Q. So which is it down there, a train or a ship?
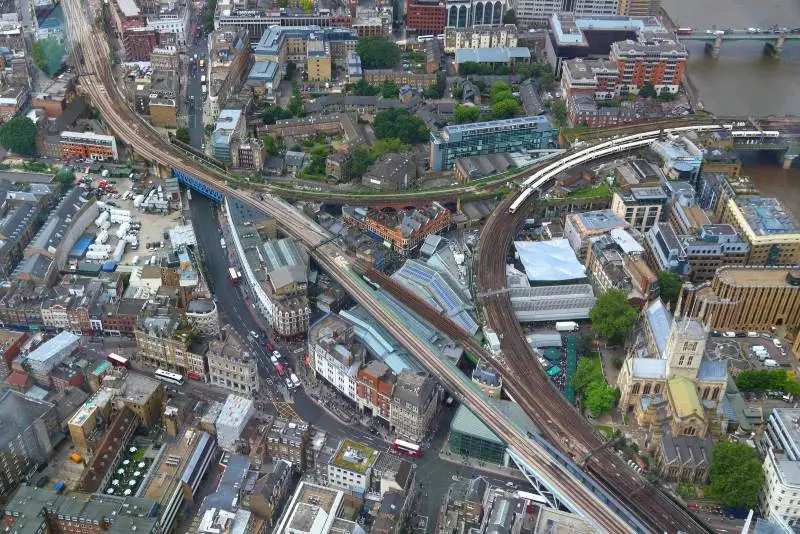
train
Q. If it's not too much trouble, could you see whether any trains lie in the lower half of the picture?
No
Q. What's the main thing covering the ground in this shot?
buildings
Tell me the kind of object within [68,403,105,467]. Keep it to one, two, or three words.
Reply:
building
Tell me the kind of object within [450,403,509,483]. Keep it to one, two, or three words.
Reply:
building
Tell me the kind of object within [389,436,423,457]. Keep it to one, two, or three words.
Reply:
bus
